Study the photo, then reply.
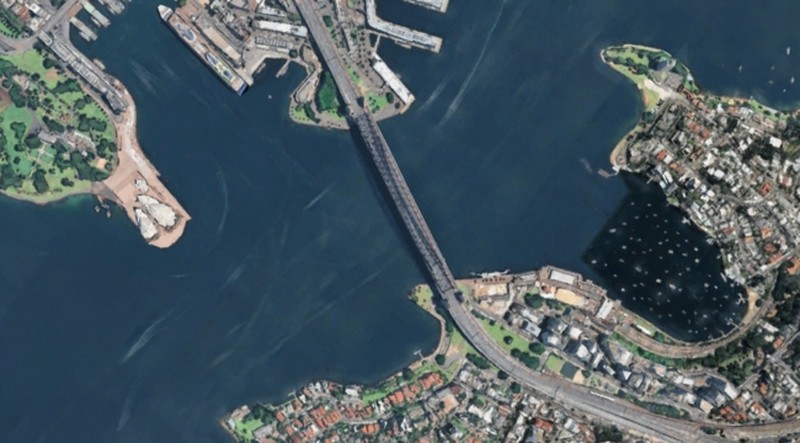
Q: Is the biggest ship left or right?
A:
left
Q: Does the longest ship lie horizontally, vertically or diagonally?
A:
diagonally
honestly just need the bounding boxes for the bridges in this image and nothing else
[295,0,536,382]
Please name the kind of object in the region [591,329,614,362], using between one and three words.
building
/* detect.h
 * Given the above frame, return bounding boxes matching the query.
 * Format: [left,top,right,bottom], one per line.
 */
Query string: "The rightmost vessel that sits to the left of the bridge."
[158,6,251,98]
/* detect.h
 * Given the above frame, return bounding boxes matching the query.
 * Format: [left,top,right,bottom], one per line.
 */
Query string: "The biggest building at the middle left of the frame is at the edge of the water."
[127,174,184,243]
